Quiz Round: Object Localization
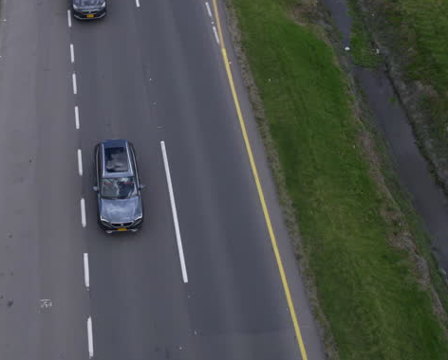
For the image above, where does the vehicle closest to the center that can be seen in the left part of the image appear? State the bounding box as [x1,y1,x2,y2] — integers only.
[91,137,148,230]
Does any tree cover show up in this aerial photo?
No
